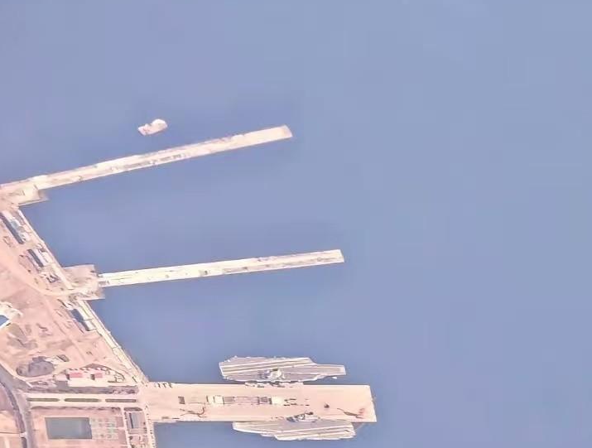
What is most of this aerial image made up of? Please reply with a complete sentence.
The bulk of the photo consists of water.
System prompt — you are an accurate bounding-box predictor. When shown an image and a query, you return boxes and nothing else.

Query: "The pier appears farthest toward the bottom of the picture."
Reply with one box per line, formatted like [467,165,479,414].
[149,383,378,423]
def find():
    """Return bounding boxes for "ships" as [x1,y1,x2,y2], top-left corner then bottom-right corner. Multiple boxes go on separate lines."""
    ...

[220,357,347,383]
[137,116,169,136]
[233,409,357,441]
